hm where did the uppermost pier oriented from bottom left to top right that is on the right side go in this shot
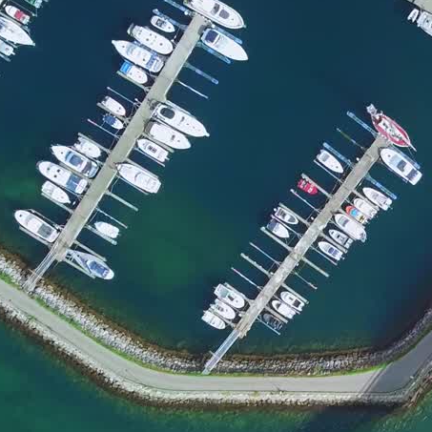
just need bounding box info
[209,110,422,337]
